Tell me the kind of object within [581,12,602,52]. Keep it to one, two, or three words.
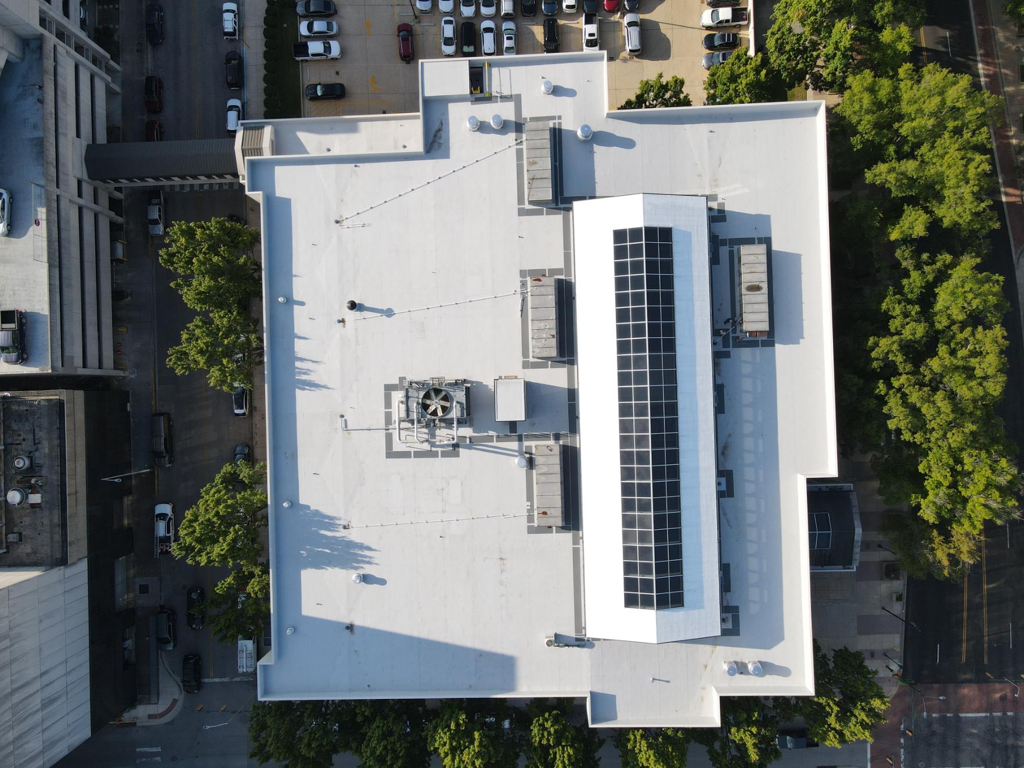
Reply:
truck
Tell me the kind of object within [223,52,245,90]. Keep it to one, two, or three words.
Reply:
car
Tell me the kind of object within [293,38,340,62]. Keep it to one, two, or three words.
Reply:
truck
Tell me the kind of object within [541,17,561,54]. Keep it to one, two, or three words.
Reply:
car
